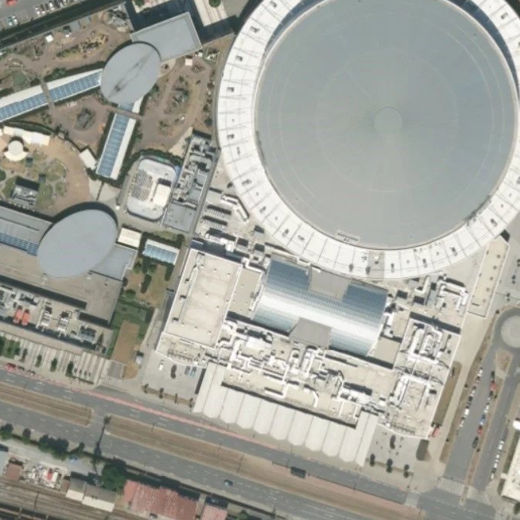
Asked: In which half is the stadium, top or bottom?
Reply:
top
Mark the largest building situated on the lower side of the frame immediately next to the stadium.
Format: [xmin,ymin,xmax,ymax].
[155,179,510,467]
